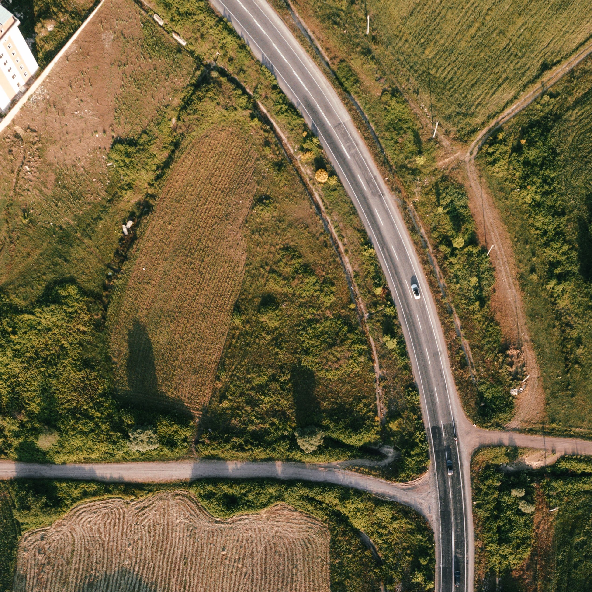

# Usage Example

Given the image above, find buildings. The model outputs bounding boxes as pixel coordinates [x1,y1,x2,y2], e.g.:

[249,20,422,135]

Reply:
[0,17,39,113]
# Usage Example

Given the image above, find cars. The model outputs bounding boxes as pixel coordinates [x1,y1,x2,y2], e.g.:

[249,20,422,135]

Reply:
[454,571,461,587]
[411,282,421,299]
[446,459,453,474]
